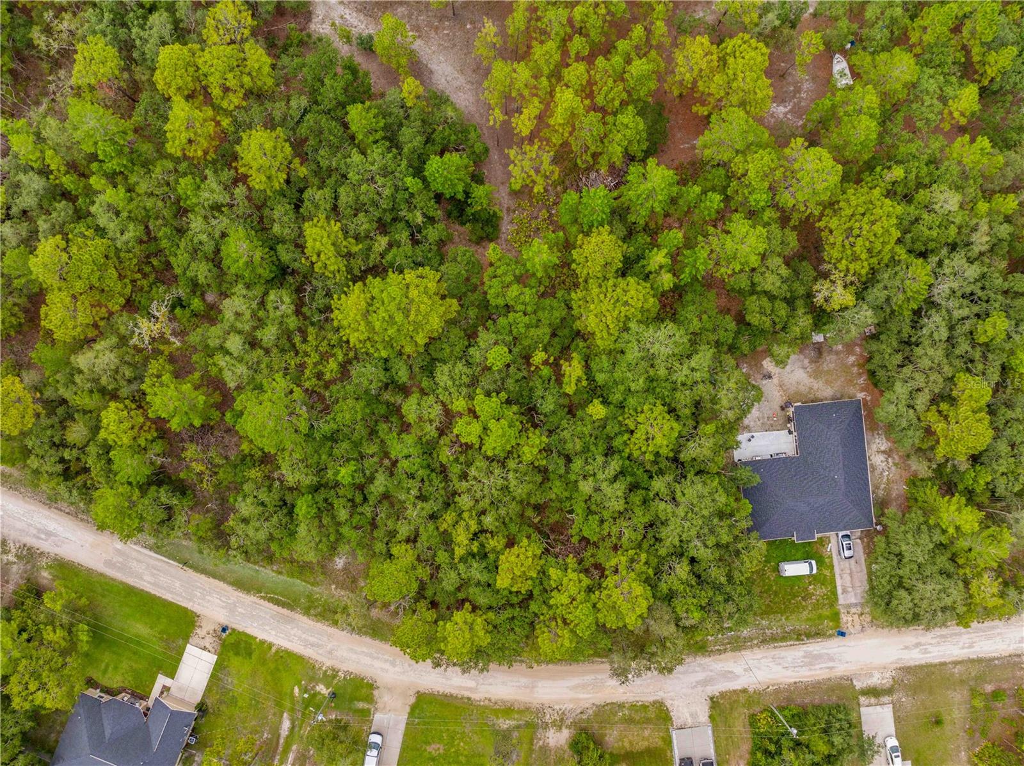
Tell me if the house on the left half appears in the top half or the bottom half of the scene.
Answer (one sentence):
The house on the left half sits in the bottom half of the picture.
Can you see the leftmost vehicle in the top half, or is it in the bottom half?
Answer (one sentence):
Seen from above, the leftmost vehicle lies in the bottom half of the view.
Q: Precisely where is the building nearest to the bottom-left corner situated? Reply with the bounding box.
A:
[51,688,201,766]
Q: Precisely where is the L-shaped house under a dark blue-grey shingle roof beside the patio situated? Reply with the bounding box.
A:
[736,398,875,544]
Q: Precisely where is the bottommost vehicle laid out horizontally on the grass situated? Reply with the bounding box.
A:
[775,558,816,577]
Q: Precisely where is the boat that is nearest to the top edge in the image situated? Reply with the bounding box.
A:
[835,53,854,90]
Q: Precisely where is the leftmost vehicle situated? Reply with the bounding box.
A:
[365,730,385,766]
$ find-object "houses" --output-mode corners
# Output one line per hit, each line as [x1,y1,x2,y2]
[51,688,201,766]
[736,398,875,544]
